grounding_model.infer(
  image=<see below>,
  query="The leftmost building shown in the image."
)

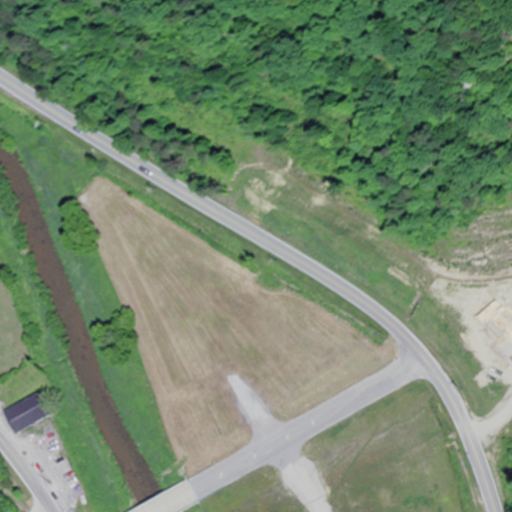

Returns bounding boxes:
[3,388,54,432]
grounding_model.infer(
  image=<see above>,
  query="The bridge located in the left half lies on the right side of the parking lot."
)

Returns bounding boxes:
[130,478,200,512]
